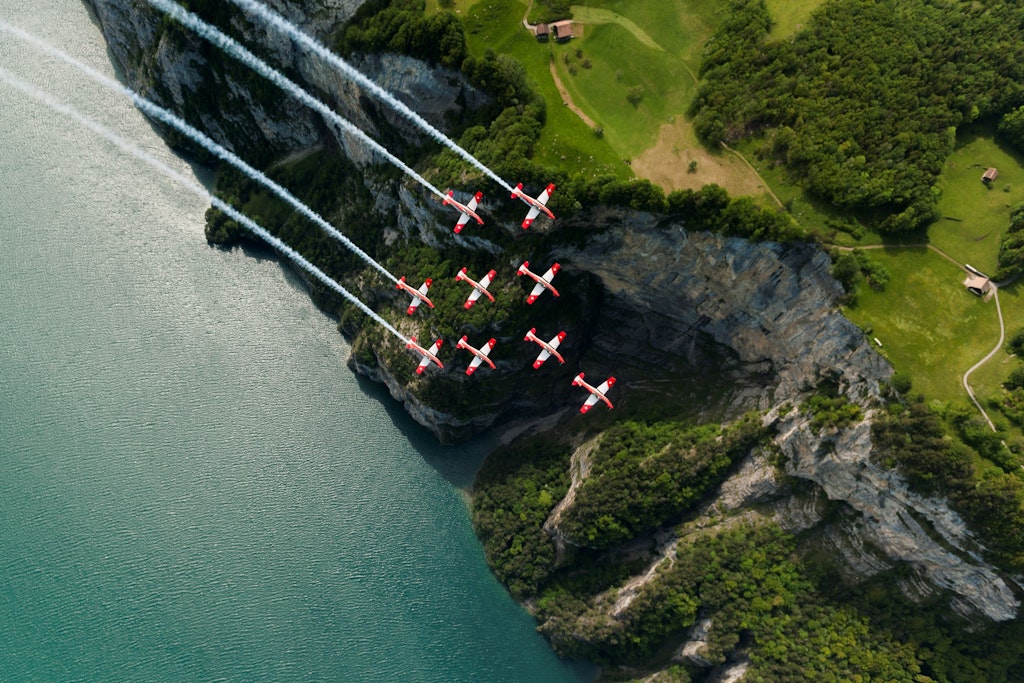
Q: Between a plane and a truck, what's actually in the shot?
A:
plane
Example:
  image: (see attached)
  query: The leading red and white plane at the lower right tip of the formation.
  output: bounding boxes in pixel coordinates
[571,373,614,412]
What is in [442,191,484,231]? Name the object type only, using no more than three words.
airplane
